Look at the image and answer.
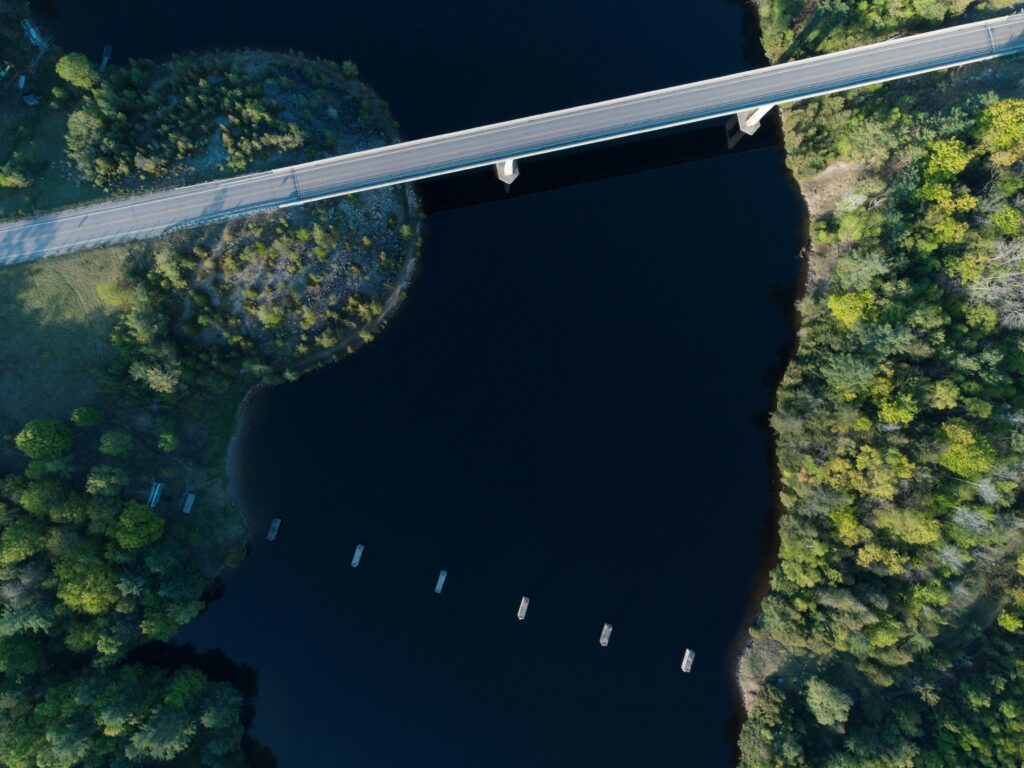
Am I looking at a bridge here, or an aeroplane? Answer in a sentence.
It is a bridge that can be seen here.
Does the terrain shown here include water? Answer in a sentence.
Yes, there's water in this view.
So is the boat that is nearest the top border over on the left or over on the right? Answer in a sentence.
The boat that is nearest the top border sits on the left side.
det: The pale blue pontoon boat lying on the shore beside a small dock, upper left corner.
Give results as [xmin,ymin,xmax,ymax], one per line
[24,21,45,45]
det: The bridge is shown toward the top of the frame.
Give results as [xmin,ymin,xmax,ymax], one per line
[269,16,1005,205]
